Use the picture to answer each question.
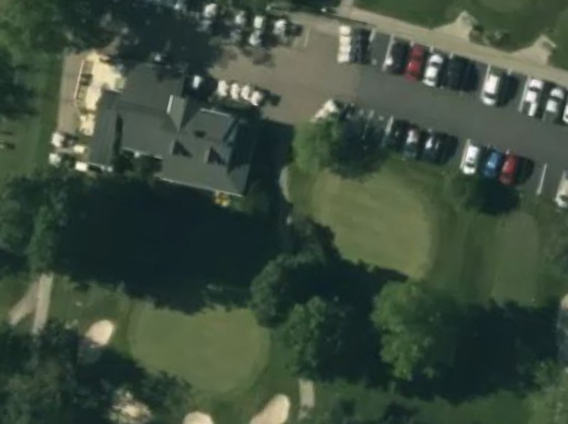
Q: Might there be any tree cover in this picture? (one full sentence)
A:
Yes, some tree cover is visible.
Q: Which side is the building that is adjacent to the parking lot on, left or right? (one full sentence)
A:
The building that is adjacent to the parking lot appears in the left half of the scene.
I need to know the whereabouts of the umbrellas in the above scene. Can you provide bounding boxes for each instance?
[215,193,229,206]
